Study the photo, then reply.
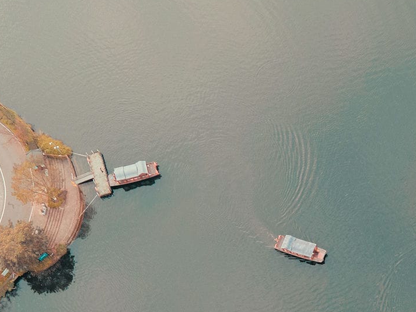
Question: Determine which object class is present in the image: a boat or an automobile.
boat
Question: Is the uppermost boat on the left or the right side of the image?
left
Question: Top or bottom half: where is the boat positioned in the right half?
bottom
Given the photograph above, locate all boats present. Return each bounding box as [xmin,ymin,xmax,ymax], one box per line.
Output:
[107,158,159,184]
[273,232,327,261]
